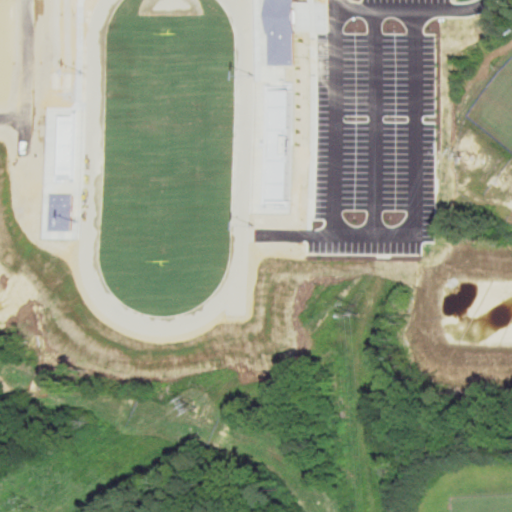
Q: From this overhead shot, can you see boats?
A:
No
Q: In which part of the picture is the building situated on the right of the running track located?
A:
top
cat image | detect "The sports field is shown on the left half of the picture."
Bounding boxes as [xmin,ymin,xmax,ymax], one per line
[102,0,236,316]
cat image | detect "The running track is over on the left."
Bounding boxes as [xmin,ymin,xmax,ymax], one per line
[80,0,258,338]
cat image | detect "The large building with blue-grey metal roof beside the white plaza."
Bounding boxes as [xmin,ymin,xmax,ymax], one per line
[264,0,301,65]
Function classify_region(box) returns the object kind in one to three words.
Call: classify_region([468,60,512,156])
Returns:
sports field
